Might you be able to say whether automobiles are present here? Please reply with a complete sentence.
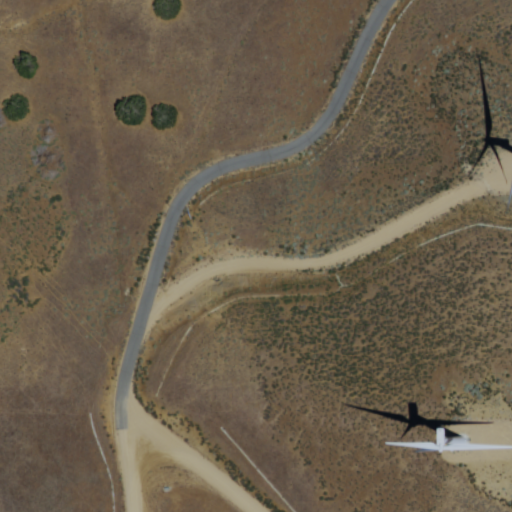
No, there isn't any automobile down there.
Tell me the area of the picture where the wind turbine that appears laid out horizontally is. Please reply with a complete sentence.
Look in the bottom right portion of the view to spot the wind turbine that appears laid out horizontally.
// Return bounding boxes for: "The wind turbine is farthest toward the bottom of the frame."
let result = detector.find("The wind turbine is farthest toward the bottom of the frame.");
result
[384,427,512,453]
